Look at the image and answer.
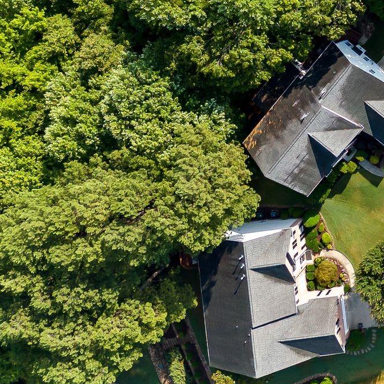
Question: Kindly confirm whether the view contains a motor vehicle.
No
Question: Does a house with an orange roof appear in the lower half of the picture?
No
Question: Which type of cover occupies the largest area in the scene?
trees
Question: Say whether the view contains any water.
No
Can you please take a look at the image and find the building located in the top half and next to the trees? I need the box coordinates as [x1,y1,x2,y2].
[247,39,384,197]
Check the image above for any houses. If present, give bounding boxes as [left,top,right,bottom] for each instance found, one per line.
[247,39,384,197]
[197,217,350,378]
